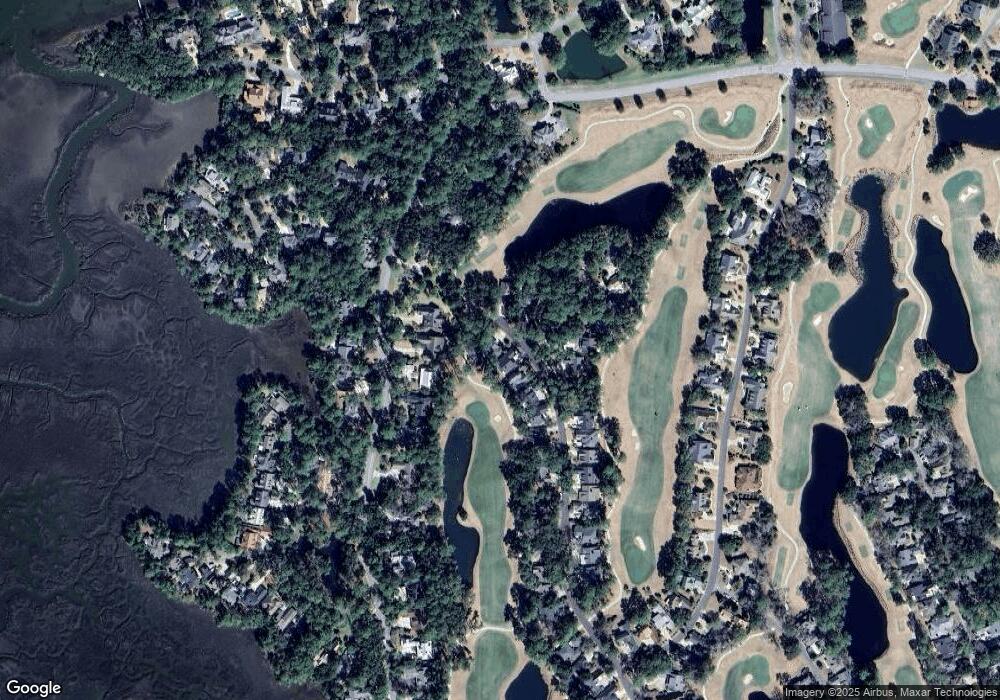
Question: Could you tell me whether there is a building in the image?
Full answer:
Yes, there's a building down there.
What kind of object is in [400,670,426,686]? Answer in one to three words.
house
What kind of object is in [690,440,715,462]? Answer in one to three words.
house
